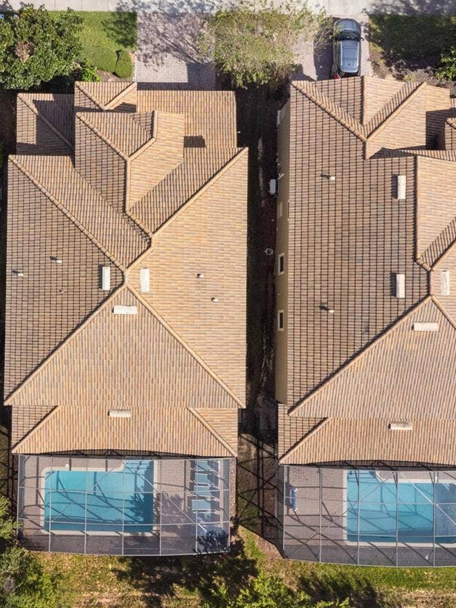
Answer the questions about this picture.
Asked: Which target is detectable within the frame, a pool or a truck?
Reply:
pool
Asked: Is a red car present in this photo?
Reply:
No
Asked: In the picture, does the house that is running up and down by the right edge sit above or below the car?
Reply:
below it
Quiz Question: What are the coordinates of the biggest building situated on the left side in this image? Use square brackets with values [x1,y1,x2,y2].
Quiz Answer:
[2,80,251,458]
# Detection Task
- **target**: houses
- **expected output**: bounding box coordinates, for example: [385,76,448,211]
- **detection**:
[2,80,251,458]
[274,76,456,468]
